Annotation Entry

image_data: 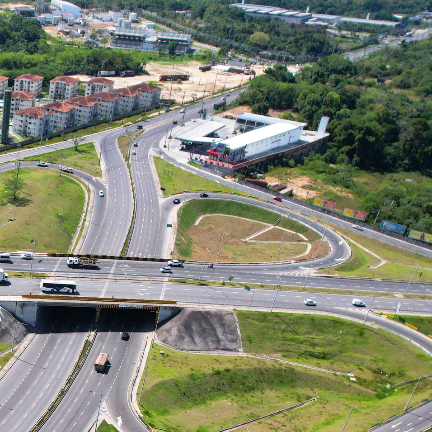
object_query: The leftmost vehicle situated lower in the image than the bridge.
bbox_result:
[95,351,109,371]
